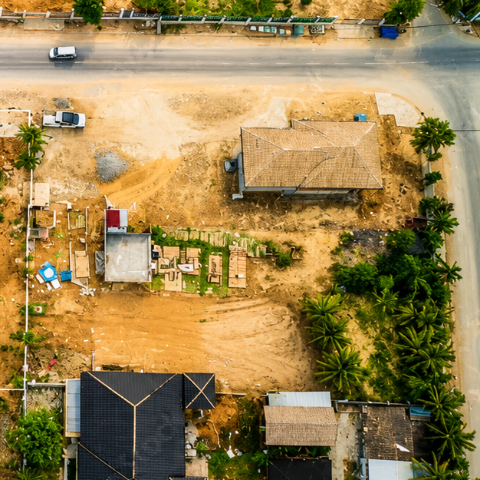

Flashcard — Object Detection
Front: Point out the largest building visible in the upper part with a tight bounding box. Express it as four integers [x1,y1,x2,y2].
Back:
[231,120,383,199]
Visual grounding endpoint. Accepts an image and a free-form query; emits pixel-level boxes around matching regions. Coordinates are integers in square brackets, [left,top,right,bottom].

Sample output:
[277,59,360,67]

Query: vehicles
[43,113,84,129]
[48,47,77,61]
